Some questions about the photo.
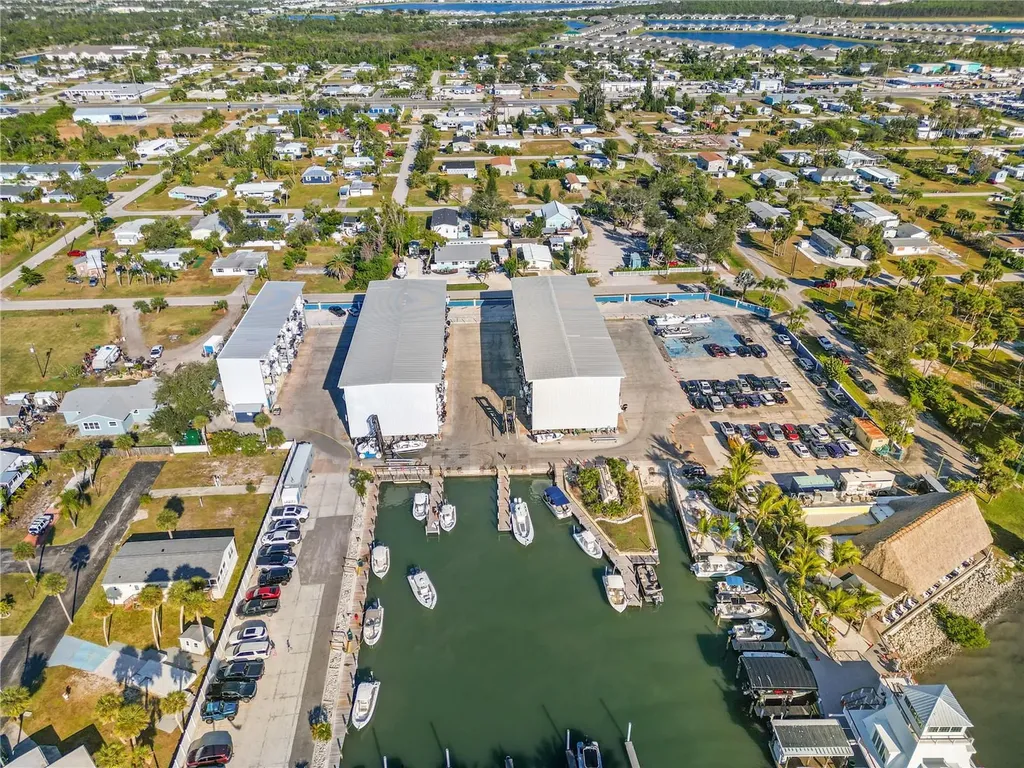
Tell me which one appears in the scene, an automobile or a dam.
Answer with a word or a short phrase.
automobile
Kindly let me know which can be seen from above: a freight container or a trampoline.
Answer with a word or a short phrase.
freight container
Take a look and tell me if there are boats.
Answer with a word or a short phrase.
Yes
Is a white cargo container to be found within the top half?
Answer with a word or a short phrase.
No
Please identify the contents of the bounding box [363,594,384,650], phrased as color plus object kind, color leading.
white boat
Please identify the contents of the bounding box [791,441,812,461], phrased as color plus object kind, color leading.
white car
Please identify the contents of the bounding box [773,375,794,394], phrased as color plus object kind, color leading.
white vehicle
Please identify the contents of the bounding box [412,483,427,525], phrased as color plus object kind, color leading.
white boat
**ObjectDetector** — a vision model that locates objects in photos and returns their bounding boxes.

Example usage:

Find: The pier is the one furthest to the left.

[327,478,379,768]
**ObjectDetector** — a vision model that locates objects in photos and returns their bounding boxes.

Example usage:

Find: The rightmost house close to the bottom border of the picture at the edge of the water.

[836,682,982,768]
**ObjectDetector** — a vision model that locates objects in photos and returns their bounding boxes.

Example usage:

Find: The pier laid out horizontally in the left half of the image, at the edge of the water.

[373,465,441,489]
